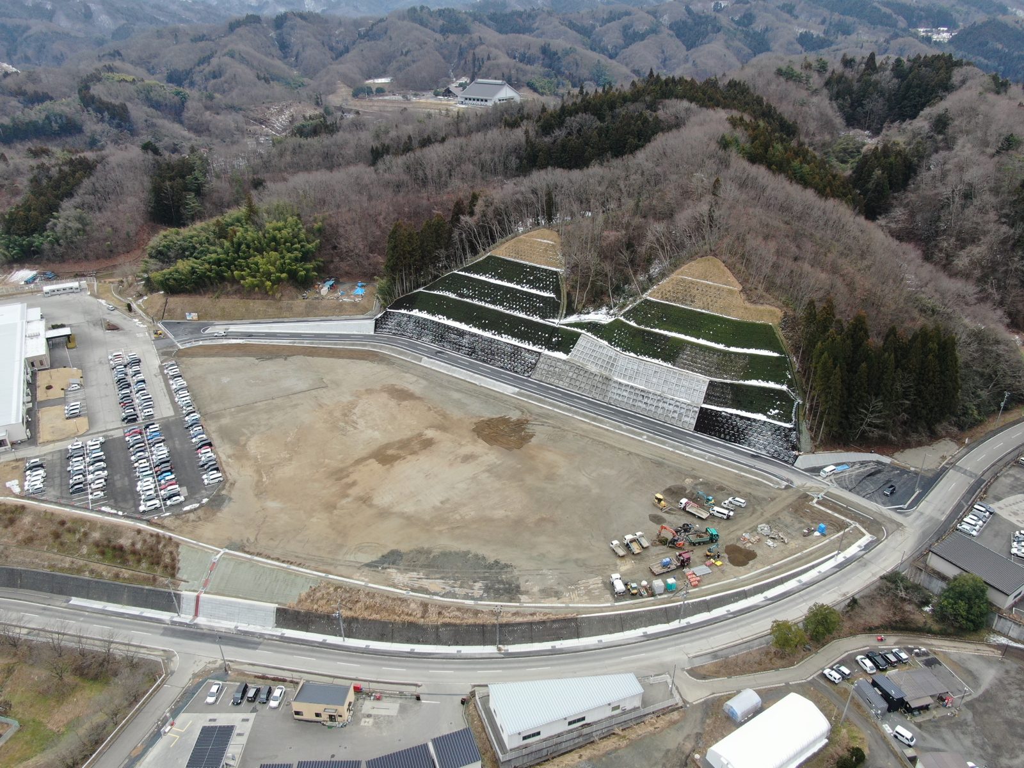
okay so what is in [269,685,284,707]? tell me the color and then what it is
white car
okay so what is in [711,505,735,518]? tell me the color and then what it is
white vehicle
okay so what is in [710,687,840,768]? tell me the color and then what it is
white tent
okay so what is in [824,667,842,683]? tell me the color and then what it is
white car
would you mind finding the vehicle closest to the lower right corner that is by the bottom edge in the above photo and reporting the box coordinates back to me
[890,721,918,746]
